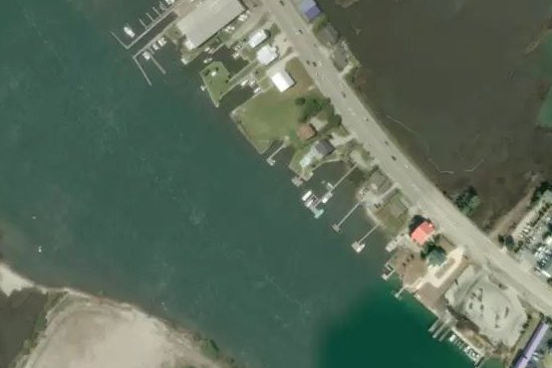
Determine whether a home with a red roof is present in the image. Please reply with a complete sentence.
Yes, a home with a red roof can be made out from above.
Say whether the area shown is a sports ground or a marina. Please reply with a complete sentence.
What you see here is a marina.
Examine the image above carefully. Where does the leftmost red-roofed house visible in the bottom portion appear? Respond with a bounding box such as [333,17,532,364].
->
[409,222,437,247]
